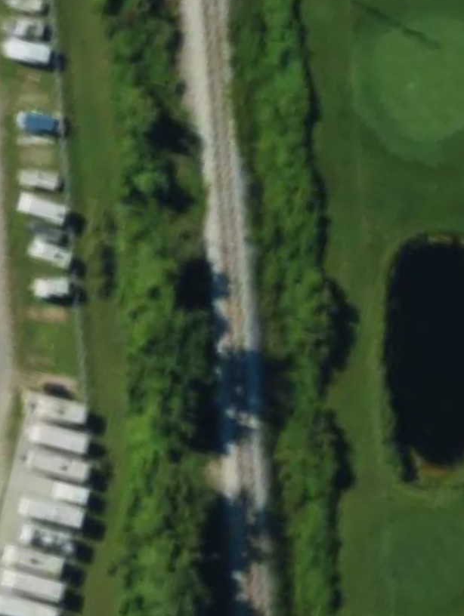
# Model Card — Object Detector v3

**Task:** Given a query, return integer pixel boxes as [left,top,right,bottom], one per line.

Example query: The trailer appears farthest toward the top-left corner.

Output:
[0,40,53,65]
